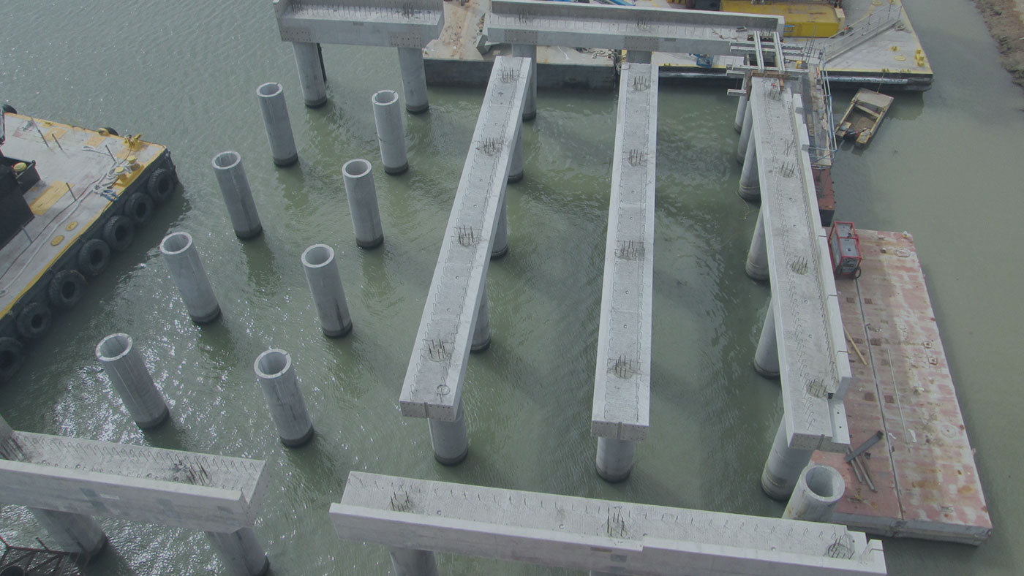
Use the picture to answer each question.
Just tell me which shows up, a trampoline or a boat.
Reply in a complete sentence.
It is a boat that can be seen here.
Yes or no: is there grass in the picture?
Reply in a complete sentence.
No, there is no grass in the image.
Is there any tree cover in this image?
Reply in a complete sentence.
No, the scene doesn't show any tree cover.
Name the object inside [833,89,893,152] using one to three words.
boat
